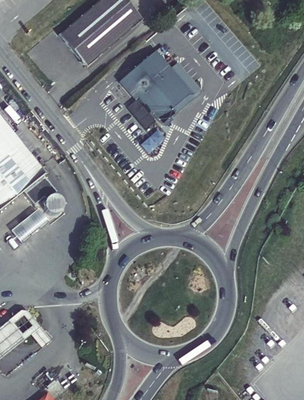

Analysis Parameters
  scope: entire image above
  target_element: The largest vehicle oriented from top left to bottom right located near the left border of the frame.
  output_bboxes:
[4,106,24,127]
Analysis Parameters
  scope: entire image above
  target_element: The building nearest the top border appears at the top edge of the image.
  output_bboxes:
[59,0,142,64]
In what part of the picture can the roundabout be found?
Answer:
bottom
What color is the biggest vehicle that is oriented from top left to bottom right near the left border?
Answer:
white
